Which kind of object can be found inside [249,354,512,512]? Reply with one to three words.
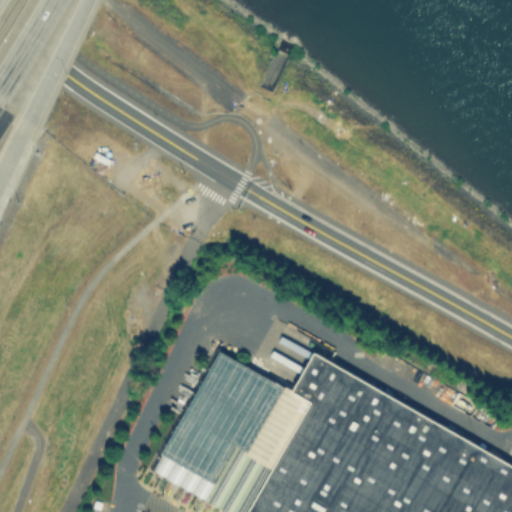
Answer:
warehouse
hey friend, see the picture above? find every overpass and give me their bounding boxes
[0,0,102,230]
